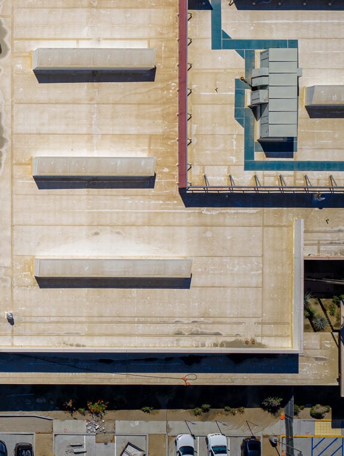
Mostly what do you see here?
buildings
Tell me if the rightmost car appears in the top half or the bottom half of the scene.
bottom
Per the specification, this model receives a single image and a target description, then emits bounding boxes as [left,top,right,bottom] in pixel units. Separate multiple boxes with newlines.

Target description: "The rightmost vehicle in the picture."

[241,434,271,456]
